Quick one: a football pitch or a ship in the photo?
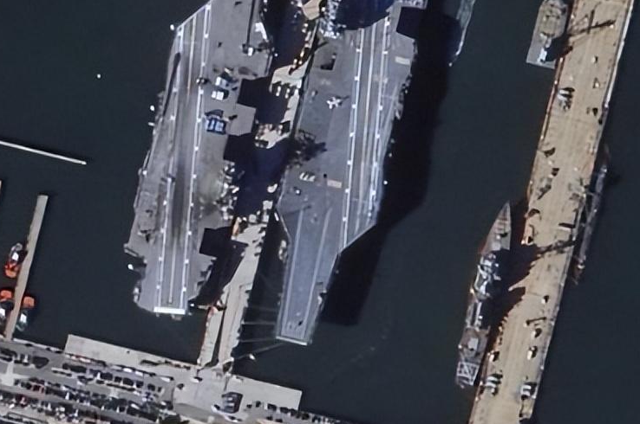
ship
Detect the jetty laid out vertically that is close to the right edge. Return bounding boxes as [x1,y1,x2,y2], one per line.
[470,0,639,424]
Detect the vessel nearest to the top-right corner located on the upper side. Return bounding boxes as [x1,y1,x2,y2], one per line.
[528,0,569,68]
